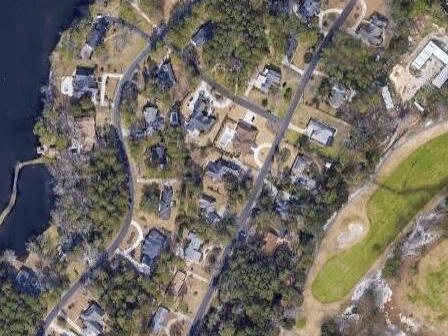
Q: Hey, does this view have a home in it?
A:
Yes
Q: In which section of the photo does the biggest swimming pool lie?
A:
center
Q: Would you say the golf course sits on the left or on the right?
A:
right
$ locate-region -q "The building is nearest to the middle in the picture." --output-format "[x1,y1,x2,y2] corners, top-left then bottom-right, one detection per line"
[208,160,245,187]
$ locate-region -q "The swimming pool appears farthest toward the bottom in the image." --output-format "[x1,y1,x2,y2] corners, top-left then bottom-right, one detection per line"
[217,126,237,150]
